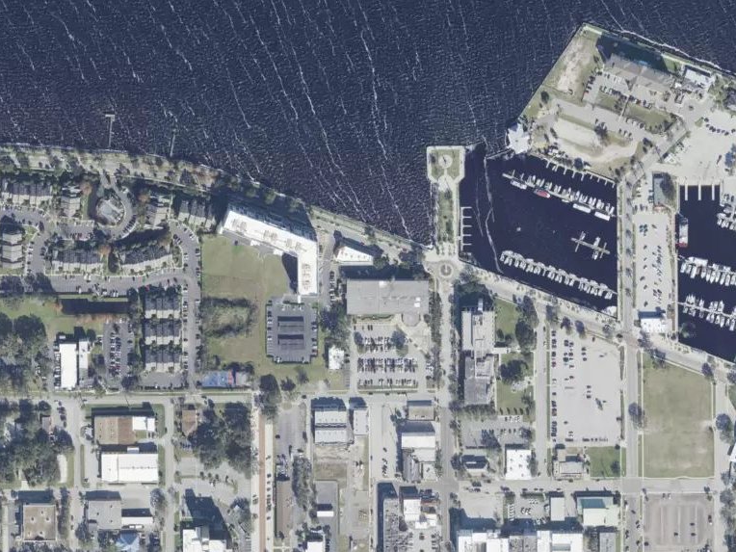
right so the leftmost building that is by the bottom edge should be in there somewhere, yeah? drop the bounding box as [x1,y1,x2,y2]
[24,502,56,541]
